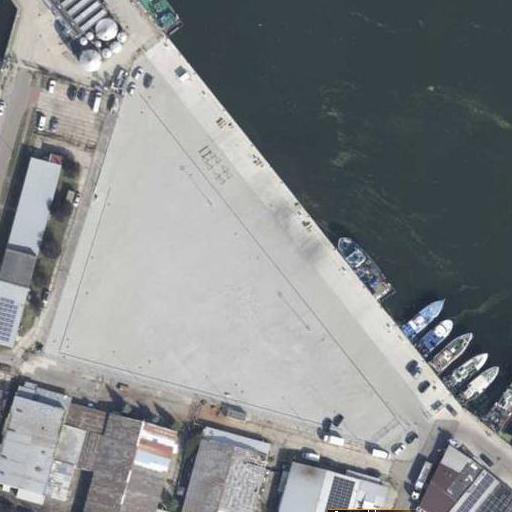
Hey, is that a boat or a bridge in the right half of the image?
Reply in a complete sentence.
There is a boat in the right half of the image.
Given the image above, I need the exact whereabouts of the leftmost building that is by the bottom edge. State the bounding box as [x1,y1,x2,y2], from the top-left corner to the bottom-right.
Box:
[0,382,73,506]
